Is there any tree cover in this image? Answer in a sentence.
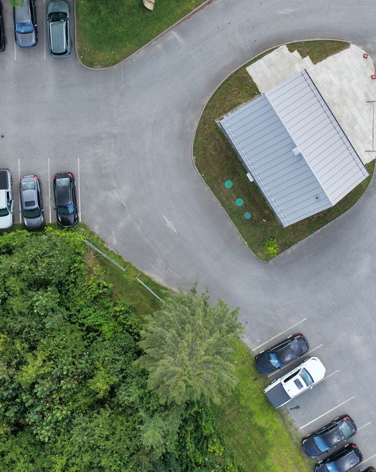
Yes, tree cover can be seen from above here.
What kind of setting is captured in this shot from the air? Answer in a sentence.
The area seen from above is a parking lot.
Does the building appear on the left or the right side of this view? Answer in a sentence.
The building appears in the right half of the scene.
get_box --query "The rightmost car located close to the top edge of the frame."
[45,0,72,58]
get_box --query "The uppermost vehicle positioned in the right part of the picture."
[256,333,308,373]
